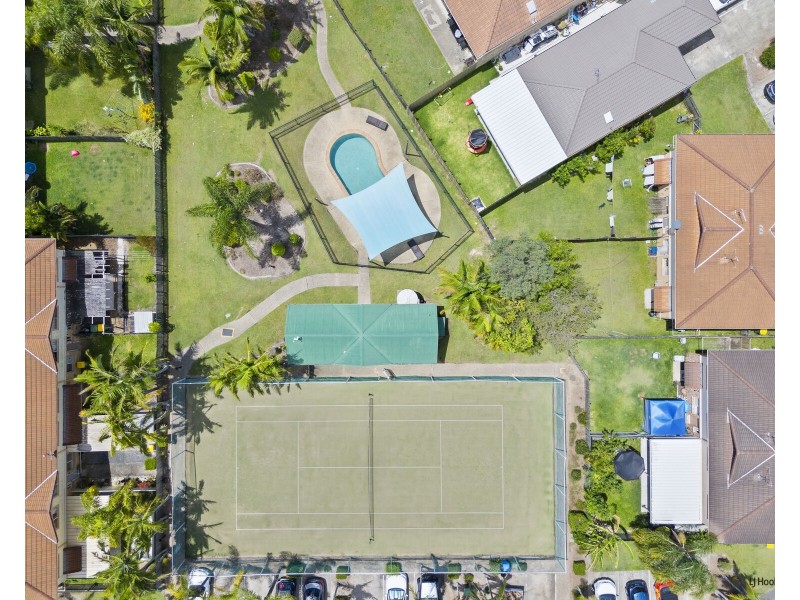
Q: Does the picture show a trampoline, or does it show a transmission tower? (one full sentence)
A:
Visible in the photo is a trampoline.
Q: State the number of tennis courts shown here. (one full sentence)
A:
Altogether the scene contains 1 tennis court.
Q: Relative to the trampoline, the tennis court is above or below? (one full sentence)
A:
The tennis court is located below the trampoline in this view.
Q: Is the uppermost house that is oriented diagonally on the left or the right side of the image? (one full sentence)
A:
The uppermost house that is oriented diagonally appears in the right half of the scene.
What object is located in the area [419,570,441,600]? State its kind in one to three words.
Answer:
car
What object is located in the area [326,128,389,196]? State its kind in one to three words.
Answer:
swimming pool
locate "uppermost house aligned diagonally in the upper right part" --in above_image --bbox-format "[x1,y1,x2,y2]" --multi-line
[471,0,722,192]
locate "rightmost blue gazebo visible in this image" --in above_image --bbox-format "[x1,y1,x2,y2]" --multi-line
[638,395,686,436]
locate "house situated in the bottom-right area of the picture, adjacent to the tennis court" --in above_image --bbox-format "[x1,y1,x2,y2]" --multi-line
[637,348,800,545]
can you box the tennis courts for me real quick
[187,383,552,555]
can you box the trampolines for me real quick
[463,130,488,157]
